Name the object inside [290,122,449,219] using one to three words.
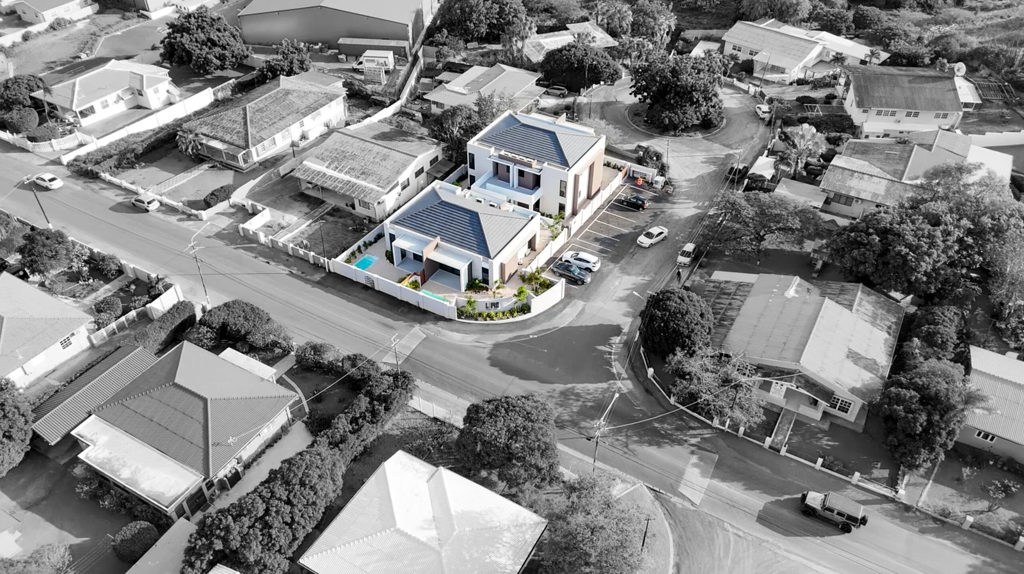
house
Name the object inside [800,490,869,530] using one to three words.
car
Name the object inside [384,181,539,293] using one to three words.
house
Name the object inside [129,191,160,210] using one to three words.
car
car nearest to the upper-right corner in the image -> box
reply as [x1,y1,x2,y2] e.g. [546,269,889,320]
[753,103,772,118]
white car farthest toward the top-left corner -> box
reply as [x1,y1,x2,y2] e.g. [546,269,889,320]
[30,171,63,189]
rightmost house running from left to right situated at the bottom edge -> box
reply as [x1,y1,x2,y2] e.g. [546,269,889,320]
[297,451,549,574]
